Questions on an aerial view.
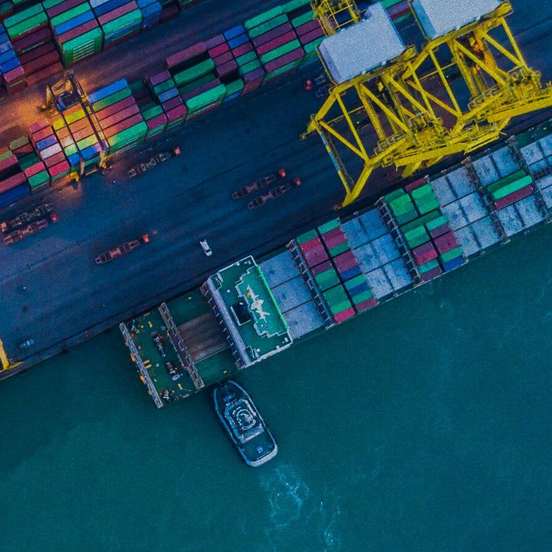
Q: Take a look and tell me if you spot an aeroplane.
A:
No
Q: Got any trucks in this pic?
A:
Yes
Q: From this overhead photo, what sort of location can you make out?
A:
port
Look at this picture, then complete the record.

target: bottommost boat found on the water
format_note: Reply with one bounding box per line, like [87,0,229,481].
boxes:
[217,382,280,471]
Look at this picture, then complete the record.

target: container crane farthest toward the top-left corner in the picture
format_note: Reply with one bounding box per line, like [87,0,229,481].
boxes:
[36,72,111,187]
